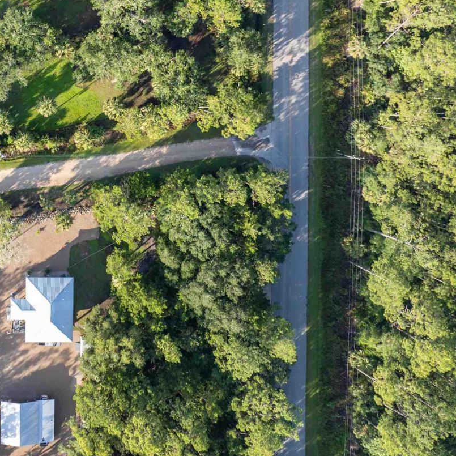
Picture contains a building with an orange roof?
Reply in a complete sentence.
No, the frame has no building with an orange roof in it.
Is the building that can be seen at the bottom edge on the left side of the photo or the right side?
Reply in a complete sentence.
The building that can be seen at the bottom edge is on the left side of the image.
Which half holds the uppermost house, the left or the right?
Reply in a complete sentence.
The uppermost house is on the left side of the image.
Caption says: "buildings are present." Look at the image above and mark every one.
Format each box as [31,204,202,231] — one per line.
[0,270,73,343]
[0,396,55,450]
